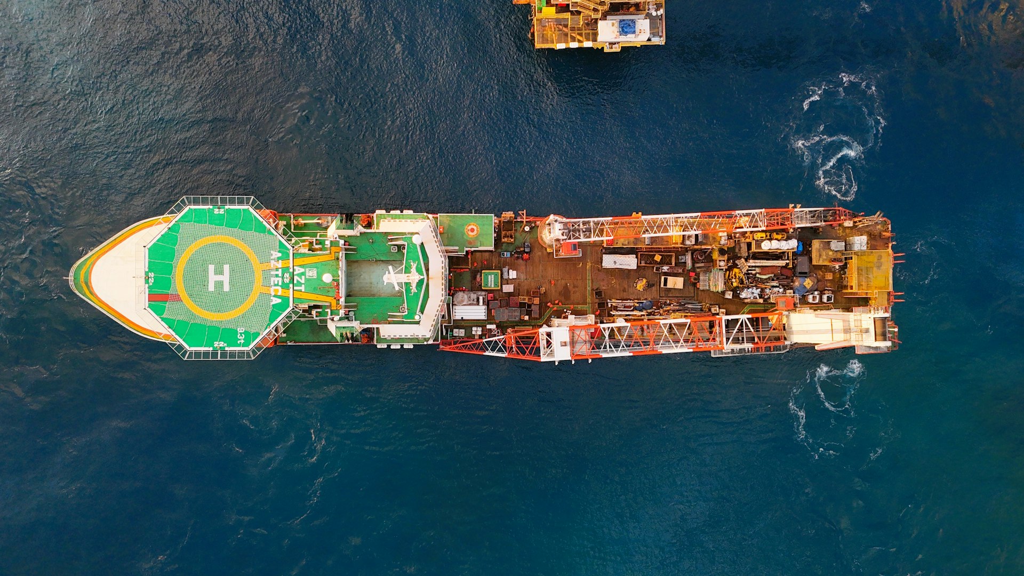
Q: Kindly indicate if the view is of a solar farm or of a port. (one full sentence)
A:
This looks like a port.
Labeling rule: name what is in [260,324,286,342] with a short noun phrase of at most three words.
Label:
boat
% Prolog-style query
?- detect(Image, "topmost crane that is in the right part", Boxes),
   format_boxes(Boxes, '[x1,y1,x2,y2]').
[537,203,865,258]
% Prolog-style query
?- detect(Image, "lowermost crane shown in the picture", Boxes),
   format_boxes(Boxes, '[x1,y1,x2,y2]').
[439,294,893,365]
